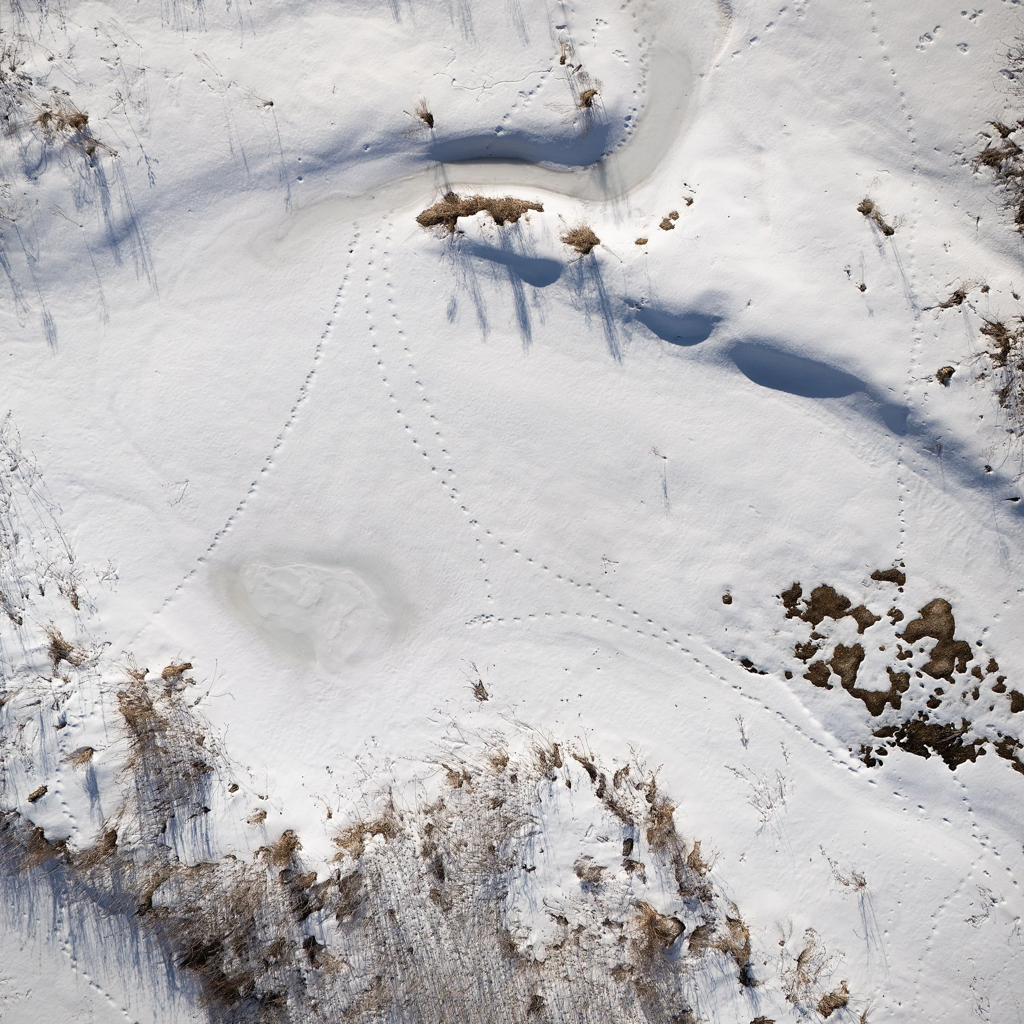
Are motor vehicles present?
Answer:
No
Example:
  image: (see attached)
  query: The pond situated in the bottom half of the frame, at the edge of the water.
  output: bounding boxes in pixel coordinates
[233,559,391,673]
